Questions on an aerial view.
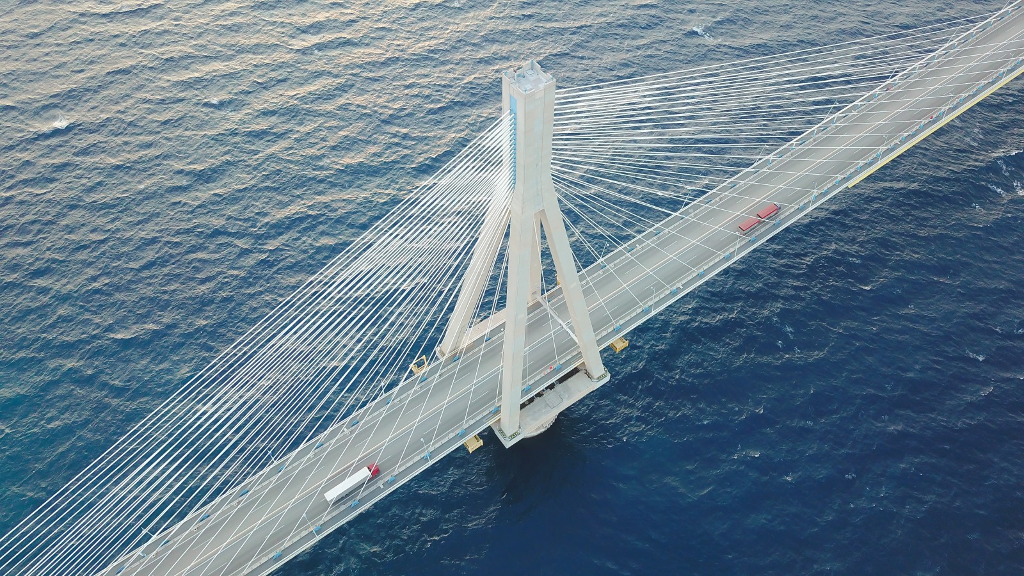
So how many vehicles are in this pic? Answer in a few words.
2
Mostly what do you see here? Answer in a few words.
water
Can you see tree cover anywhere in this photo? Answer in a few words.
No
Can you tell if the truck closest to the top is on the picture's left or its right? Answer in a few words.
right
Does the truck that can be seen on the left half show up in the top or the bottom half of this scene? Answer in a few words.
bottom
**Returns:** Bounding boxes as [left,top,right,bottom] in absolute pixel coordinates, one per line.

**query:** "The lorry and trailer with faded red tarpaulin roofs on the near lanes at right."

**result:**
[737,204,781,236]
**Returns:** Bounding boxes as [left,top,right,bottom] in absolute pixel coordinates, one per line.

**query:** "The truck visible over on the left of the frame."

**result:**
[324,463,381,505]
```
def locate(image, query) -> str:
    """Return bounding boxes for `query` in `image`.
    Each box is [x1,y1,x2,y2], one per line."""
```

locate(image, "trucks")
[737,204,781,236]
[324,463,381,505]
